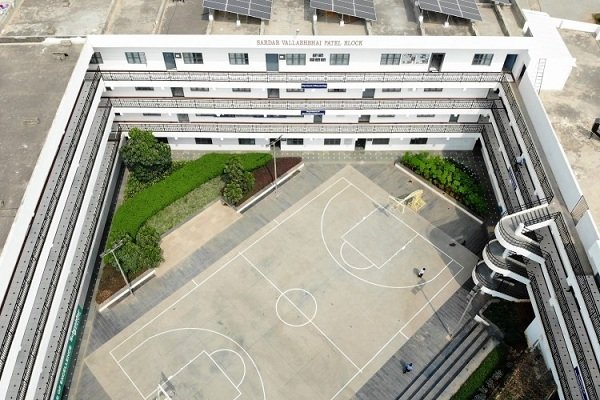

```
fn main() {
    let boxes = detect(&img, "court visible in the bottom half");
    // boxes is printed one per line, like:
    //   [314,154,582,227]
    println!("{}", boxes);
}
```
[81,163,483,400]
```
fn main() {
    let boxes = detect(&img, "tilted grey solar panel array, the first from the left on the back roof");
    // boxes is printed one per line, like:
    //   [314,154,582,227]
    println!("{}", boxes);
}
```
[203,0,283,32]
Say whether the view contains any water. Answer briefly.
No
